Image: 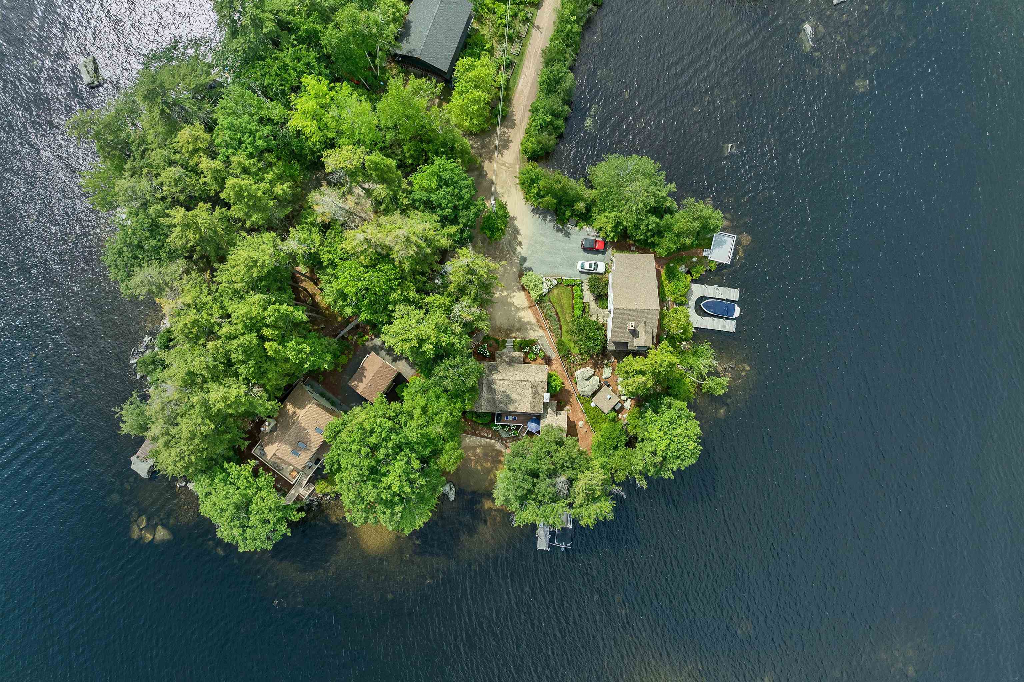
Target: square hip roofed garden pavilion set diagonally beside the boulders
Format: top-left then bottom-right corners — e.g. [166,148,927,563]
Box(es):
[591,385,619,414]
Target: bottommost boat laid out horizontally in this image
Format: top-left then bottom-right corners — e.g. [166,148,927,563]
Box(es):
[701,300,742,320]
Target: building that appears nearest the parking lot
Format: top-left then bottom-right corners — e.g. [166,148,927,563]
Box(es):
[606,253,660,350]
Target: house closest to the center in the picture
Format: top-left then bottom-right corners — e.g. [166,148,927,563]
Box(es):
[475,350,565,440]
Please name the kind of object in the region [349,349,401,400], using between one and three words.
building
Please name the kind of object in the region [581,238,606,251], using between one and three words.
vehicle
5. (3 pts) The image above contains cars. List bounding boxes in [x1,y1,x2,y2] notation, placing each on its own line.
[581,238,606,251]
[577,261,605,274]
